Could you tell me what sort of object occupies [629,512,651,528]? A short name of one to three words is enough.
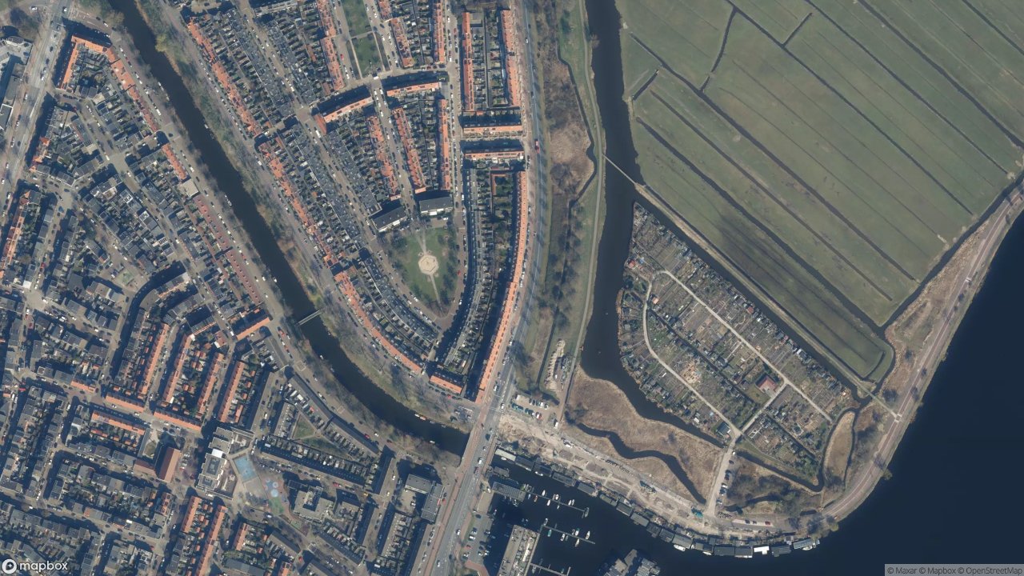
boat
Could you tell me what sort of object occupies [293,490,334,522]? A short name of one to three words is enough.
building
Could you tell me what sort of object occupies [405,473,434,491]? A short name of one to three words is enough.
building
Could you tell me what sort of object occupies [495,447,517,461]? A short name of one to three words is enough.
boat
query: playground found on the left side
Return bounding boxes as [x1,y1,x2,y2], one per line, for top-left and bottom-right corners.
[262,474,307,534]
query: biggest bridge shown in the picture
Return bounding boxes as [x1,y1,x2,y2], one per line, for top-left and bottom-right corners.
[453,424,499,487]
